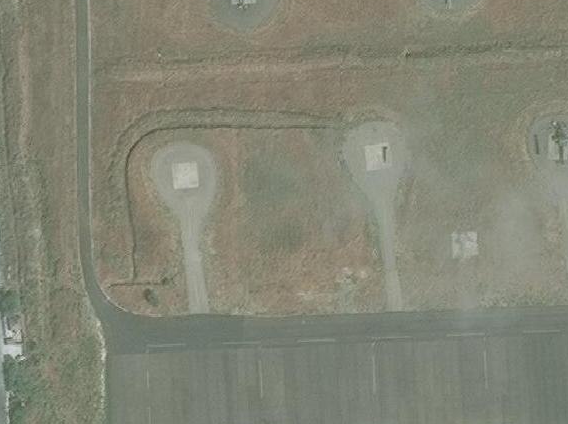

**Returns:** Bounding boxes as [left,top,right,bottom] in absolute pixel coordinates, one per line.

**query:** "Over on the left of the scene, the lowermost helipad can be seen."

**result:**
[172,162,199,190]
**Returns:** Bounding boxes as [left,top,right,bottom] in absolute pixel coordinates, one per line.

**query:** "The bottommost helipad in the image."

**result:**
[452,231,478,259]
